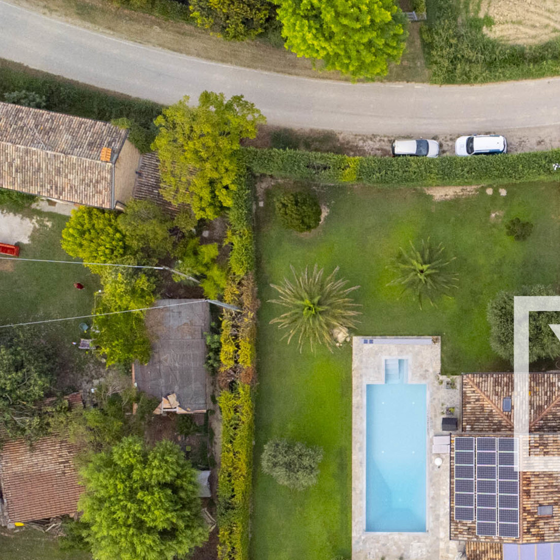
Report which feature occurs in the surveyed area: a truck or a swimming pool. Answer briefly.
swimming pool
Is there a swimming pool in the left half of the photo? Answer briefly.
No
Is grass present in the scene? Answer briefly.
Yes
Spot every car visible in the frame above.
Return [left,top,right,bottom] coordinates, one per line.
[456,133,508,160]
[393,138,440,161]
